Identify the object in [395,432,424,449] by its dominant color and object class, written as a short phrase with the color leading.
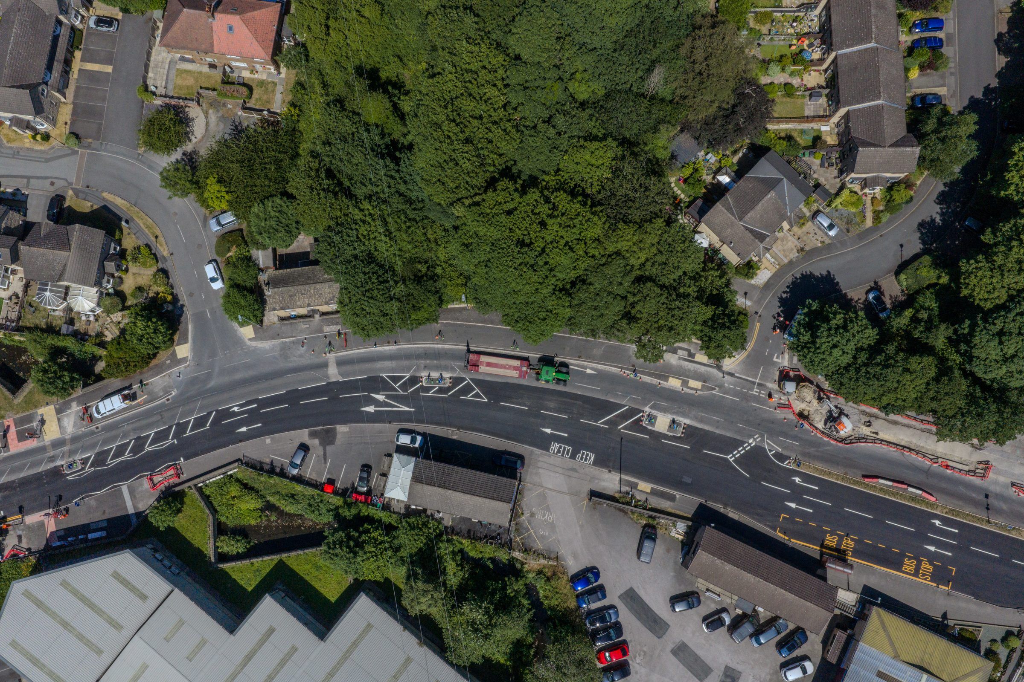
white car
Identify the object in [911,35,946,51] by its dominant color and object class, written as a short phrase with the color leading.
blue car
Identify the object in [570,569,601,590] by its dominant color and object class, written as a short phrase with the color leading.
blue car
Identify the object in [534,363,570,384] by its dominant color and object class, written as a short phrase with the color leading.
green work vehicle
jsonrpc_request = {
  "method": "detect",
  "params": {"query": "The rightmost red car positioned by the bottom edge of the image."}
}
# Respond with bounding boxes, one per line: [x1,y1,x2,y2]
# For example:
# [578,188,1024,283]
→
[596,644,630,663]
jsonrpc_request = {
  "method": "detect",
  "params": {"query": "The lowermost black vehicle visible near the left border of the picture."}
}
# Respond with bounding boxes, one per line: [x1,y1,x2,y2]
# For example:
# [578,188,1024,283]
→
[45,193,69,224]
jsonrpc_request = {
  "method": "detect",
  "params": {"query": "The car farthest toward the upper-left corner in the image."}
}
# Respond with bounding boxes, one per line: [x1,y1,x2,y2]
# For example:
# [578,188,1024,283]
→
[88,14,121,34]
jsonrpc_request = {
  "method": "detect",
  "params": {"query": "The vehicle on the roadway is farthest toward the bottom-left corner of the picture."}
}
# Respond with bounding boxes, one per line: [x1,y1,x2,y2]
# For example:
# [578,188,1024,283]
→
[94,391,139,417]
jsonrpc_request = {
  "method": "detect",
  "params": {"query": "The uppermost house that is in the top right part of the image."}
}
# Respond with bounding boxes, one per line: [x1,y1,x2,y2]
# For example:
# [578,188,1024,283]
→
[816,0,899,64]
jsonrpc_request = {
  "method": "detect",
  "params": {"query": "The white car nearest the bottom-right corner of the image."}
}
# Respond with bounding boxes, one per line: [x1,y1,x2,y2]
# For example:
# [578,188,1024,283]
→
[779,658,815,682]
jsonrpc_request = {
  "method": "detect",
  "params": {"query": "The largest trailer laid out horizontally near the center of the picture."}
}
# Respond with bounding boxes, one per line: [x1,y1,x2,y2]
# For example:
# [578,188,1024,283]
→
[464,353,538,379]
